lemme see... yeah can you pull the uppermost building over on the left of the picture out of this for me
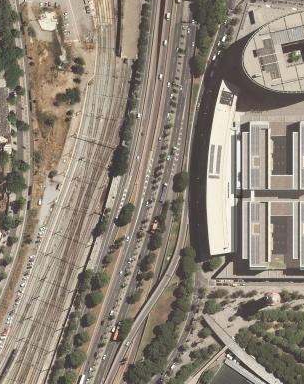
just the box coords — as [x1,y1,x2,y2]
[38,12,58,32]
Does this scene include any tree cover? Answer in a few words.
Yes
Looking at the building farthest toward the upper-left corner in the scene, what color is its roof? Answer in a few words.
white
